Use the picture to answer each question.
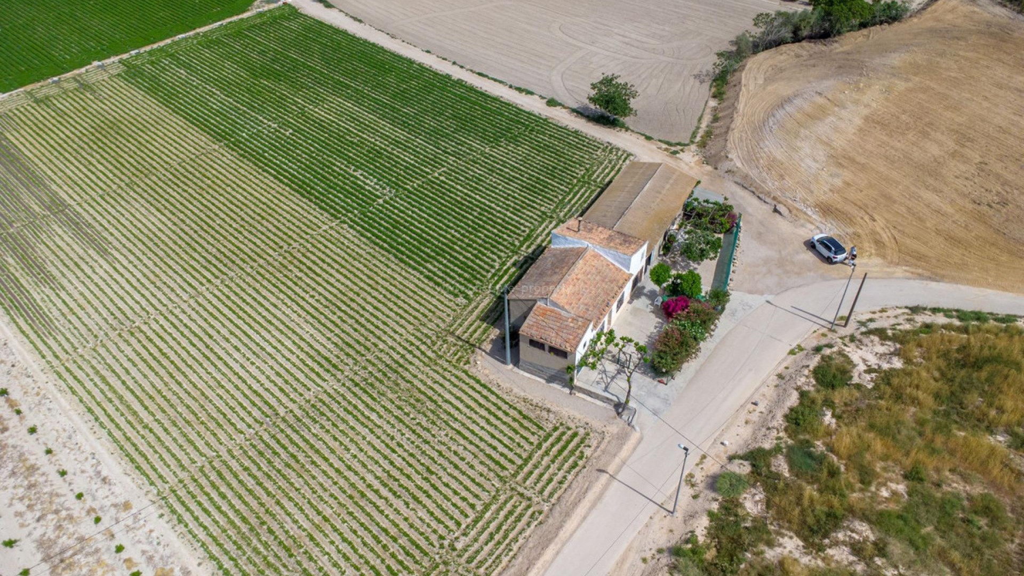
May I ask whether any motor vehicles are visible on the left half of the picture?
No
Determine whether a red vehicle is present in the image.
No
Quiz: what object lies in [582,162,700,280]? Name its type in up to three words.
barn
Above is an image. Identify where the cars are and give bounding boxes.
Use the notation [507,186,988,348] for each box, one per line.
[810,235,850,264]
